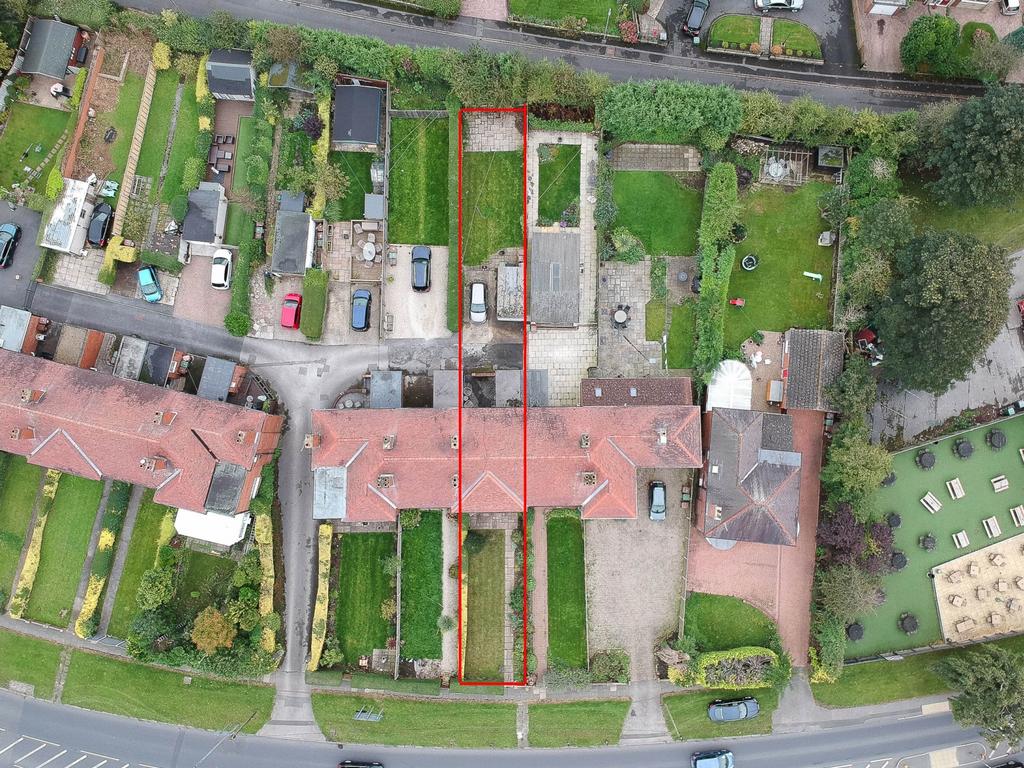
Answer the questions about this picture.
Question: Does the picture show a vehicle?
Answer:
Yes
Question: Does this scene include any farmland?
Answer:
No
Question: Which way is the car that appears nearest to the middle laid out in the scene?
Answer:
up and down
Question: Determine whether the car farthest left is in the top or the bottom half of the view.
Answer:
top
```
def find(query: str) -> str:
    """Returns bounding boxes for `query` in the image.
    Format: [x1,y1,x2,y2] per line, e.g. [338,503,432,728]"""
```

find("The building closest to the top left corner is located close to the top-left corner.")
[21,17,84,80]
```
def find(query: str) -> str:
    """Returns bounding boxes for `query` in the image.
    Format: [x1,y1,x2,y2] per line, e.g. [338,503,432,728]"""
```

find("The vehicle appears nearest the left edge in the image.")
[0,224,24,269]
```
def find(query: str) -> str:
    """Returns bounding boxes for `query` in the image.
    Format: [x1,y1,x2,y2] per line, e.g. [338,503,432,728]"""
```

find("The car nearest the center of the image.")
[467,281,489,323]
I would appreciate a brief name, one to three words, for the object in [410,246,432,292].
car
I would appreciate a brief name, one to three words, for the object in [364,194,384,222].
shed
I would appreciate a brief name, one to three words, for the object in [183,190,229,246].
building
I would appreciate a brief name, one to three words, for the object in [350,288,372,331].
car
